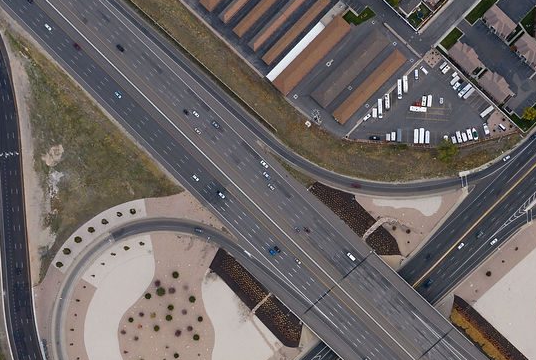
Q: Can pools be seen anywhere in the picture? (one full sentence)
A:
No, the picture doesn't show any pool.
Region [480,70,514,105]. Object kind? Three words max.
building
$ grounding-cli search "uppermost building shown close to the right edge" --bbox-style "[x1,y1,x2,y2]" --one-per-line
[483,5,517,41]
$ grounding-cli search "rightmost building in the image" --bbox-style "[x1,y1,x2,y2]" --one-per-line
[515,34,536,70]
